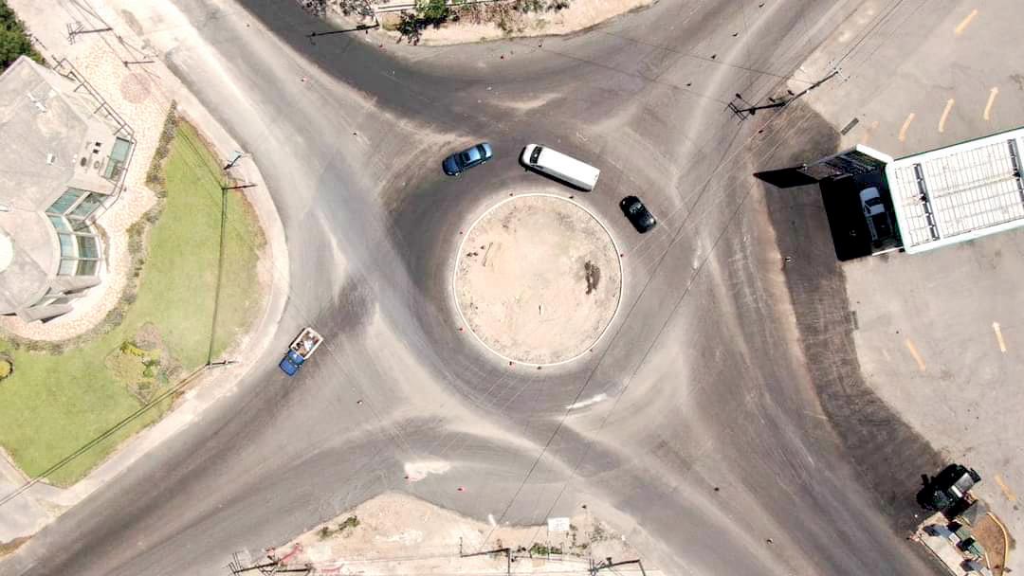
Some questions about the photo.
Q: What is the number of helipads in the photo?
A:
none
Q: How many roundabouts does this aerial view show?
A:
1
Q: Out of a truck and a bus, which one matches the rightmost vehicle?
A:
truck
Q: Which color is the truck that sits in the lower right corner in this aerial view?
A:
black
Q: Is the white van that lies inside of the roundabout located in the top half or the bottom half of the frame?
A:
top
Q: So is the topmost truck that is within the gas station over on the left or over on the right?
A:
right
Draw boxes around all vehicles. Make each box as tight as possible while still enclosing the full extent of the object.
[914,463,979,520]
[275,324,327,377]
[441,140,494,175]
[522,142,599,193]
[854,184,888,242]
[620,193,661,236]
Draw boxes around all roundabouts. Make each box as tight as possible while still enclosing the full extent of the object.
[394,136,682,424]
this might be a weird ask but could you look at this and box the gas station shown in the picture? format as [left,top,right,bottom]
[790,0,1024,576]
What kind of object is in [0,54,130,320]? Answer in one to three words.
building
